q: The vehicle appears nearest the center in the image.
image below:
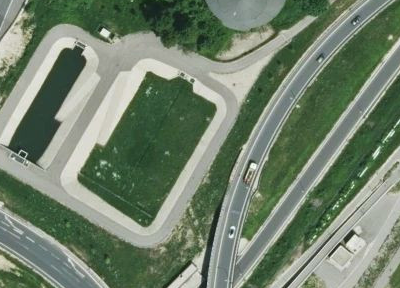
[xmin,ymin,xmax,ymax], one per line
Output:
[244,162,257,185]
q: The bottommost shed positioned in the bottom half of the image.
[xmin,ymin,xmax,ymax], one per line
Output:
[166,262,198,288]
